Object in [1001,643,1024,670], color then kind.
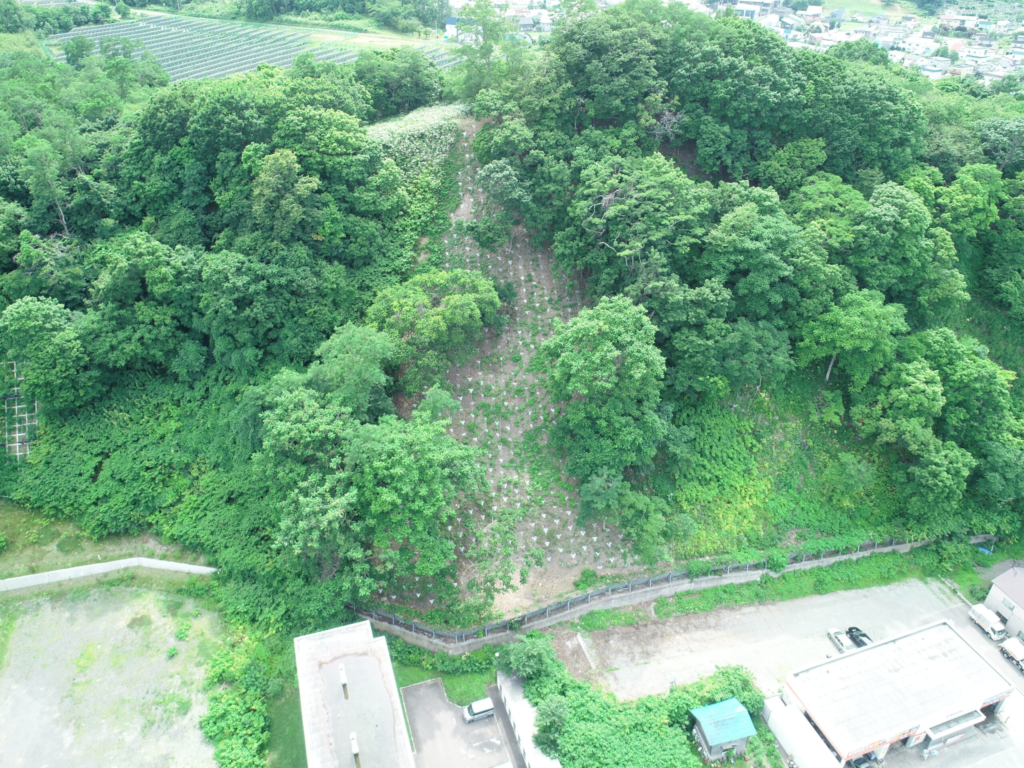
white truck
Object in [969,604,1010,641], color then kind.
white truck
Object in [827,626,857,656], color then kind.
white car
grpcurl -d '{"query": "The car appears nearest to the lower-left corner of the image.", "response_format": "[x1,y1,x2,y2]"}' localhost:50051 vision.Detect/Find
[463,696,495,722]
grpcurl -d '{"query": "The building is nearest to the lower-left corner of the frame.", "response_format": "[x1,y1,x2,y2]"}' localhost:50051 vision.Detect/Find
[294,622,417,768]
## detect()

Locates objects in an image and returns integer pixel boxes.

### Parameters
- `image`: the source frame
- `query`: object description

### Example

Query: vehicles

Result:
[1001,643,1024,670]
[827,626,857,656]
[463,696,495,722]
[847,626,876,651]
[969,604,1010,641]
